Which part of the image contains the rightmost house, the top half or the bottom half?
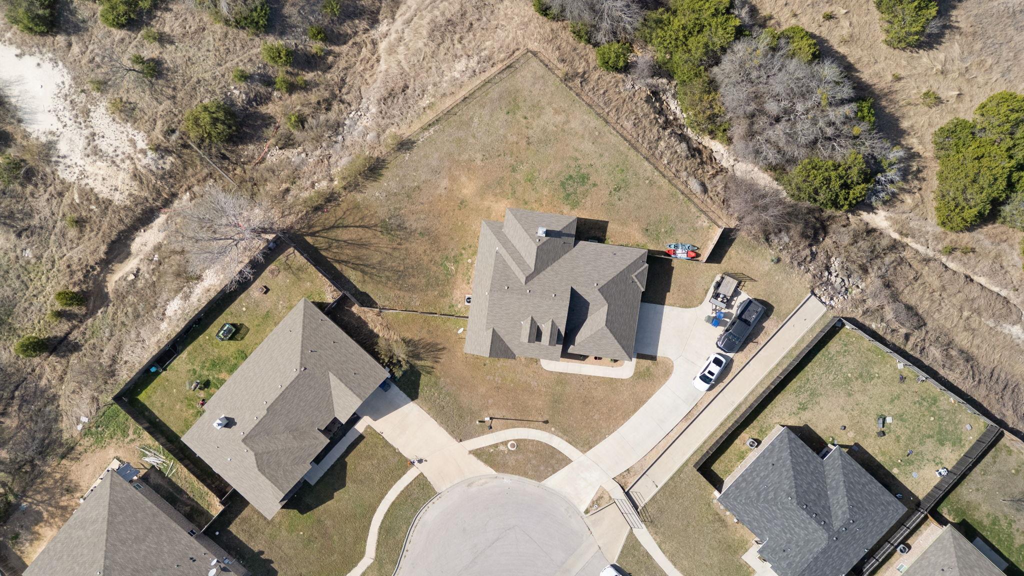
bottom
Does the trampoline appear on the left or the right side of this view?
left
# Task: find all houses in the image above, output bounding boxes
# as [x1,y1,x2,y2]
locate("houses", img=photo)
[181,298,389,520]
[718,426,908,576]
[21,467,250,576]
[881,521,1006,576]
[464,207,649,362]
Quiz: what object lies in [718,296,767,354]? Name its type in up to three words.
truck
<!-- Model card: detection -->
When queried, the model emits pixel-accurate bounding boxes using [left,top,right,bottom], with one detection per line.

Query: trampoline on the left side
[213,322,238,342]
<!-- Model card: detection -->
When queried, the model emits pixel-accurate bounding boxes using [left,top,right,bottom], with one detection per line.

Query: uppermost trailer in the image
[710,271,744,315]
